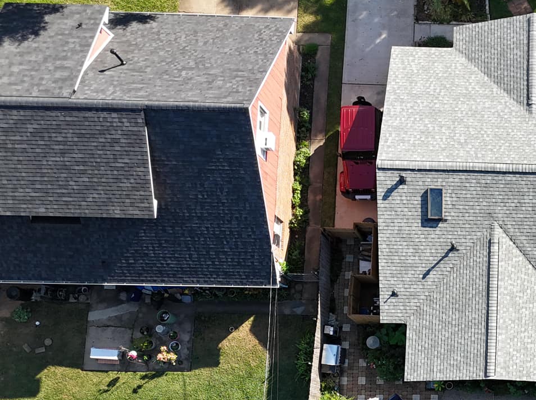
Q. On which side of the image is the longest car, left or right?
right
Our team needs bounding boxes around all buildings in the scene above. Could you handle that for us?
[0,7,305,289]
[375,16,536,381]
